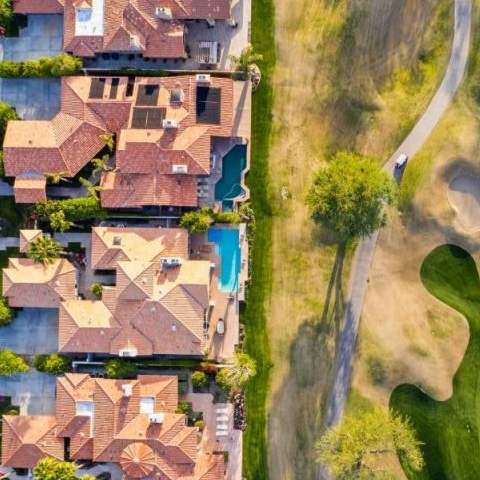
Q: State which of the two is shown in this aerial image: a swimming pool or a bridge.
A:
swimming pool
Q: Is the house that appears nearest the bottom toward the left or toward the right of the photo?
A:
left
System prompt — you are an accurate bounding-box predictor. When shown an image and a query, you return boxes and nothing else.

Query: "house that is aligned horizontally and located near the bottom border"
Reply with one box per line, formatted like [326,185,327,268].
[2,372,226,480]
